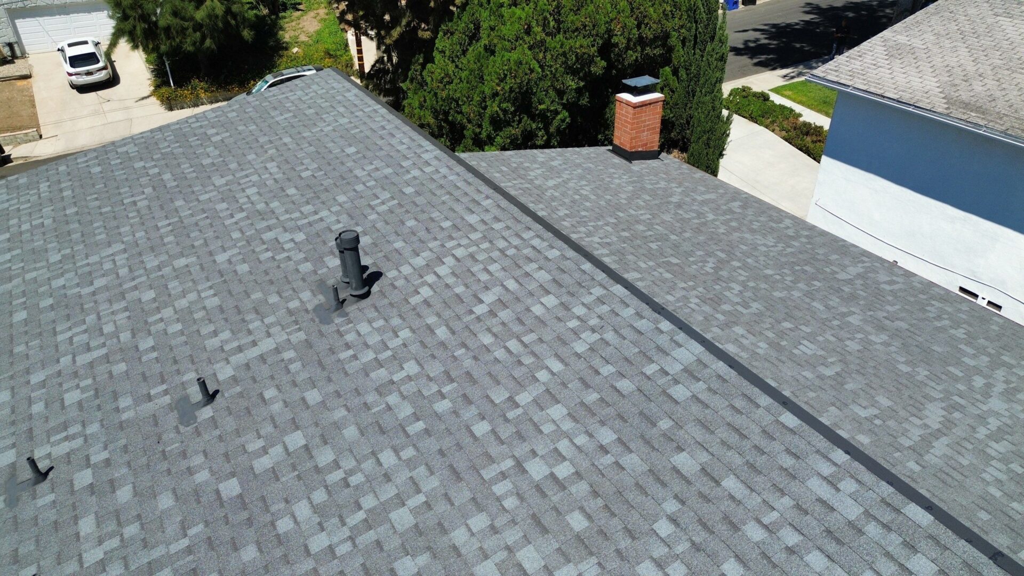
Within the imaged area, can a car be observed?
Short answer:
Yes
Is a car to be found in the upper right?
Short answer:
No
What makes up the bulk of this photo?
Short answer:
buildings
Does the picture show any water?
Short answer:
No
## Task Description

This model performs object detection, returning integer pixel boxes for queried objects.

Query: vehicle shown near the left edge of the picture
[45,38,109,88]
